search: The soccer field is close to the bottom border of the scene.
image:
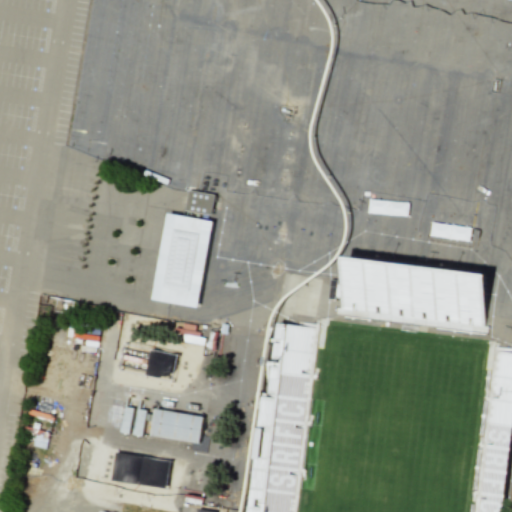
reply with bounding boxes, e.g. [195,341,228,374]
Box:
[300,321,490,512]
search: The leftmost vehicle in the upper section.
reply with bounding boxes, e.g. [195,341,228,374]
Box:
[146,169,174,186]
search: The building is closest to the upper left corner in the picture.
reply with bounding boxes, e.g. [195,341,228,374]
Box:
[188,190,218,212]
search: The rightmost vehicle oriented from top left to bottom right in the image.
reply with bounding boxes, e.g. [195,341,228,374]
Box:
[477,184,493,198]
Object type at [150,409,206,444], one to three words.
building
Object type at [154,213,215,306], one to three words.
building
